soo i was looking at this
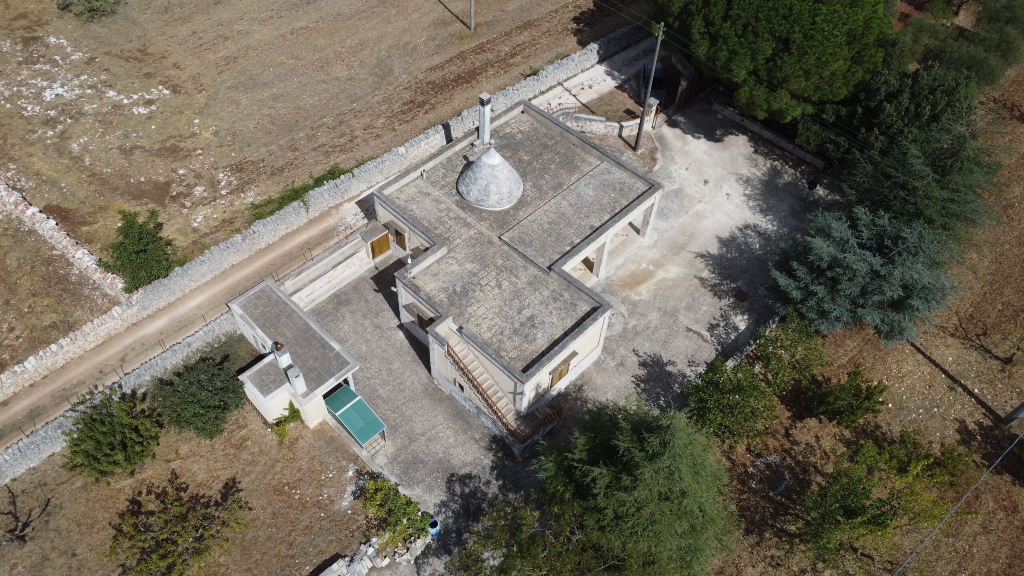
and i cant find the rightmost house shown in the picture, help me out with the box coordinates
[374,95,663,457]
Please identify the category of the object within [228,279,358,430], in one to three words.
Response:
shed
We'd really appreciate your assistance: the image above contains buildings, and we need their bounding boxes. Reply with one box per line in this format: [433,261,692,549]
[374,95,663,457]
[228,279,358,430]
